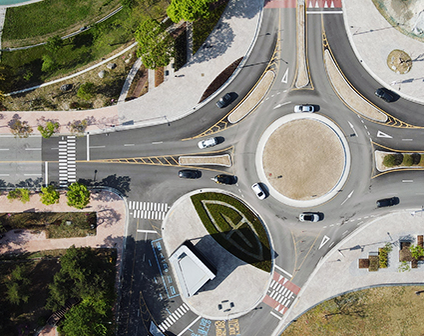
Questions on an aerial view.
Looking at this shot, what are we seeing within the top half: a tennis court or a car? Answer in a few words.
car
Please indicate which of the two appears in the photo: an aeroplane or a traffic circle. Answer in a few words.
traffic circle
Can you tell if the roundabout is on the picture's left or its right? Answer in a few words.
right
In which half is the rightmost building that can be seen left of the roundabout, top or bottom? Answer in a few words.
bottom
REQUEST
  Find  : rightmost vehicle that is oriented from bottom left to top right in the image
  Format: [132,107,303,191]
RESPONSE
[214,90,236,109]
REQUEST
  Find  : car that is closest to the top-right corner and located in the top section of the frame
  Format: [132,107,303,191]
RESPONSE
[372,85,397,102]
